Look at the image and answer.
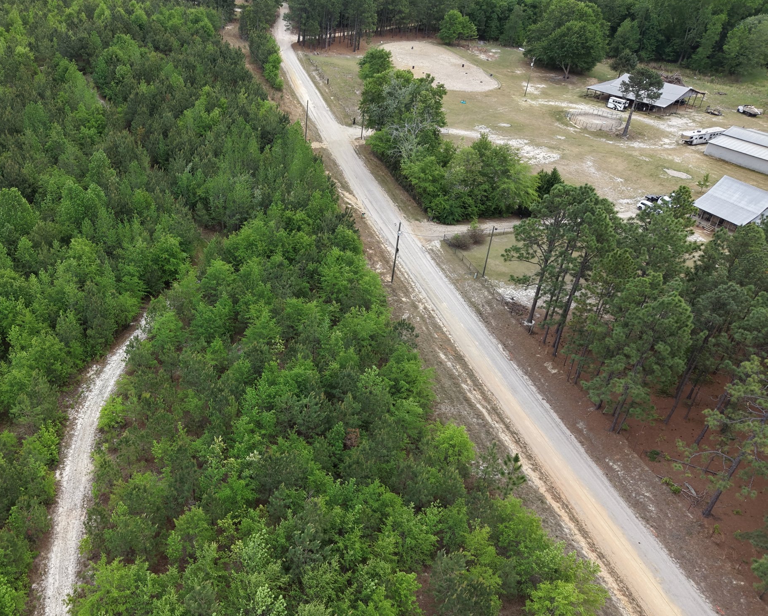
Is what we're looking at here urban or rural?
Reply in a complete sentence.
From above, the setting appears rural.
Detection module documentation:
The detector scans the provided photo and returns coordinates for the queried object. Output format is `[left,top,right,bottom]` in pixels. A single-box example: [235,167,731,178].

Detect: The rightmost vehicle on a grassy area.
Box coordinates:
[733,103,763,116]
